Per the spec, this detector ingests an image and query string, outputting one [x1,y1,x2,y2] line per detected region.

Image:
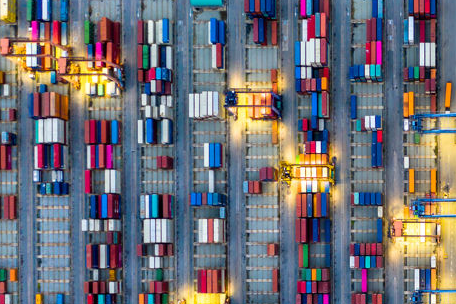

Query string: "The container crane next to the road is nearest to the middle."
[223,88,282,125]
